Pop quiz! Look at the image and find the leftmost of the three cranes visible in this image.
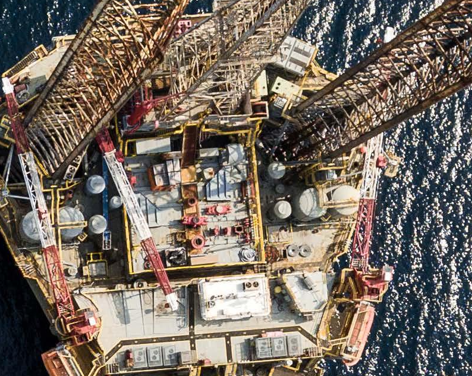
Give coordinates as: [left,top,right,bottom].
[0,73,101,347]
